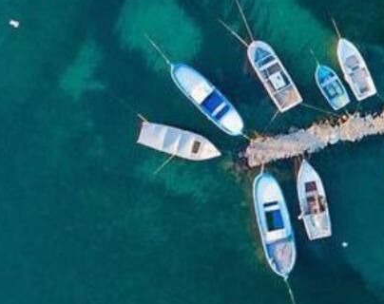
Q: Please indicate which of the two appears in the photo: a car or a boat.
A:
boat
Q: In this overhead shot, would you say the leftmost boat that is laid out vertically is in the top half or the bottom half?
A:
bottom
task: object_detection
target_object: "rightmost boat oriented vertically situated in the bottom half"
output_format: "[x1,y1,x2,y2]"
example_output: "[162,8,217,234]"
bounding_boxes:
[295,150,331,241]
